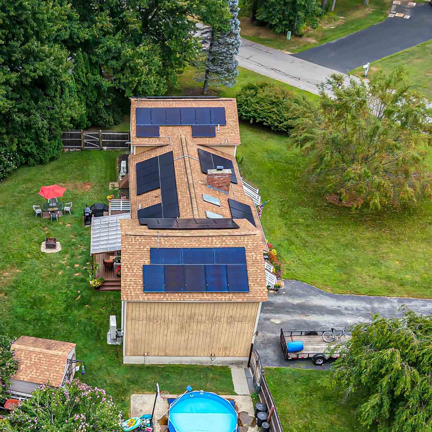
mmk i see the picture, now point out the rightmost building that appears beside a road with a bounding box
[120,94,280,366]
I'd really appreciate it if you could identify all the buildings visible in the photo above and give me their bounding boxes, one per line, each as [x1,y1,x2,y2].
[9,341,73,408]
[120,94,280,366]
